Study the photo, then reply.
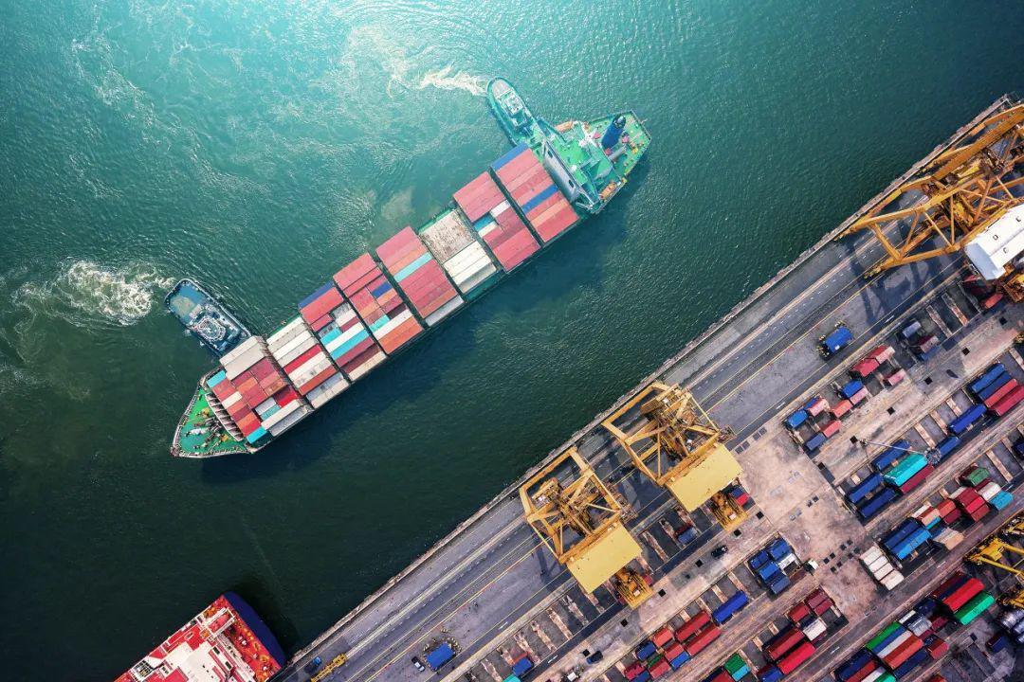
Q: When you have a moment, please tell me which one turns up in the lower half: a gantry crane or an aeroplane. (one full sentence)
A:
What appears in the lower half is a gantry crane.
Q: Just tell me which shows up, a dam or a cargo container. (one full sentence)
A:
It is a cargo container that can be seen here.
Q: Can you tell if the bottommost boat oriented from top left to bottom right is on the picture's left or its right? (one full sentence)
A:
You can find the bottommost boat oriented from top left to bottom right on the left side of the picture.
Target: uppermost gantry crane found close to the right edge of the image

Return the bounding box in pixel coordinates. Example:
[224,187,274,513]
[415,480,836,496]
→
[929,101,1024,200]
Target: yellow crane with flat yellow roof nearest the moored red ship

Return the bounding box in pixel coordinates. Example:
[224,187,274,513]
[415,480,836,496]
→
[517,444,663,623]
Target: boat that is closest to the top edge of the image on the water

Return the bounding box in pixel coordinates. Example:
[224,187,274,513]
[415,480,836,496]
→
[487,71,542,145]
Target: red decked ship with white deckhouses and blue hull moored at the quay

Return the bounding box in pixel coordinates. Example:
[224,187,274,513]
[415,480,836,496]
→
[114,590,286,682]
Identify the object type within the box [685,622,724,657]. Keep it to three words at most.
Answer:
shipping container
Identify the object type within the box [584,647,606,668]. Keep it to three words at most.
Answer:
truck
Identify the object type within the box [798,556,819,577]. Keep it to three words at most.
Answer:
truck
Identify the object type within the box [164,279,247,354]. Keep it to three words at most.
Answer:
boat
